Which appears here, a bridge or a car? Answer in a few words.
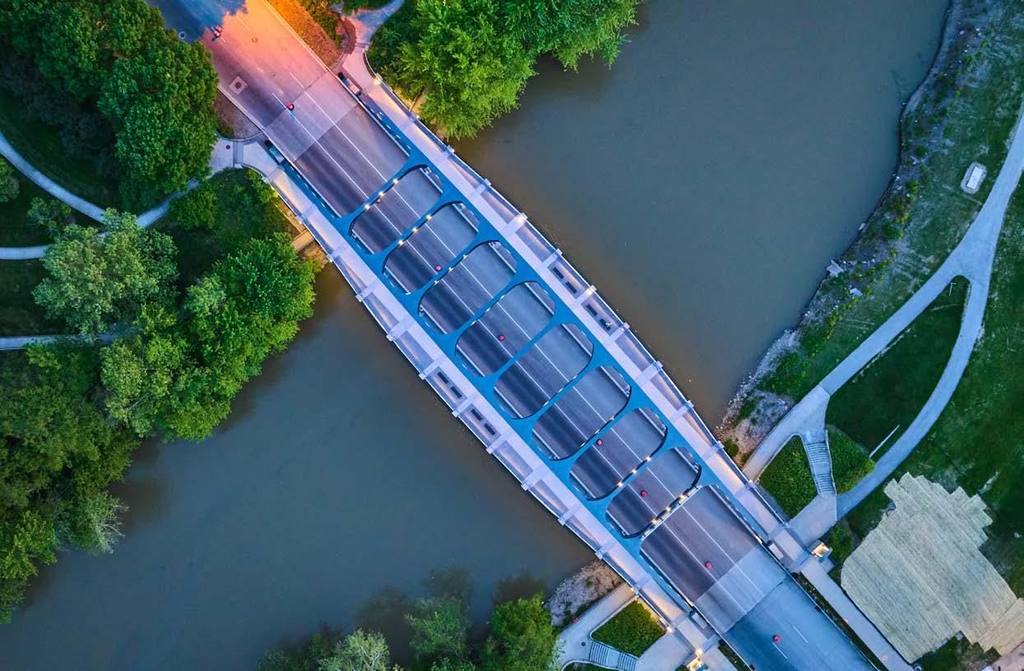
bridge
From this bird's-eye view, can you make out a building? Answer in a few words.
No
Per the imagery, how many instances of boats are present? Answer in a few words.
none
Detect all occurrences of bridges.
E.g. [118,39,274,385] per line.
[257,62,795,642]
